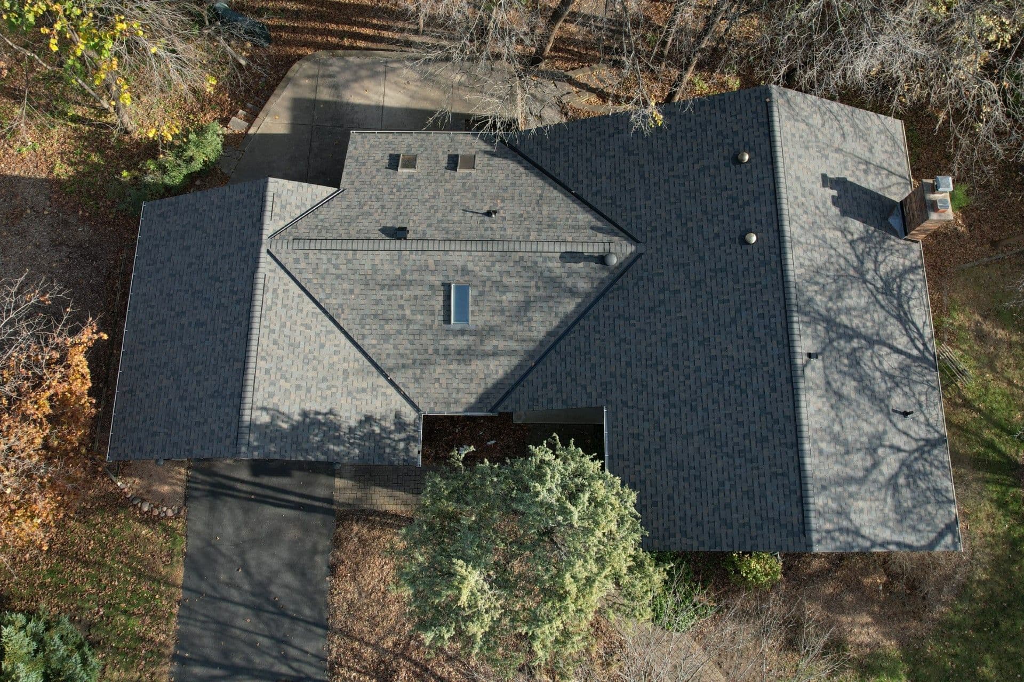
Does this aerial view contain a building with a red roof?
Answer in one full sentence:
No, there is no building with a red roof in the image.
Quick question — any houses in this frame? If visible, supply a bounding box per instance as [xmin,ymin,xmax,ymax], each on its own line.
[105,83,966,559]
